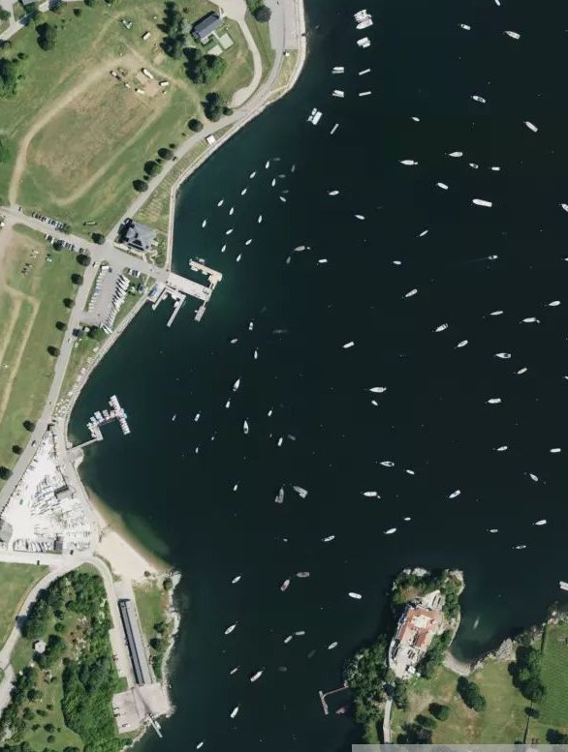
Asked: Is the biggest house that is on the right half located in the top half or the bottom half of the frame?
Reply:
bottom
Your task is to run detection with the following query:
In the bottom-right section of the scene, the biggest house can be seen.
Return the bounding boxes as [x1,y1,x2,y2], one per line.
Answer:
[396,607,442,649]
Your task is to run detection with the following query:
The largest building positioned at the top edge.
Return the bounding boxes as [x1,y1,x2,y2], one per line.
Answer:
[194,12,224,47]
